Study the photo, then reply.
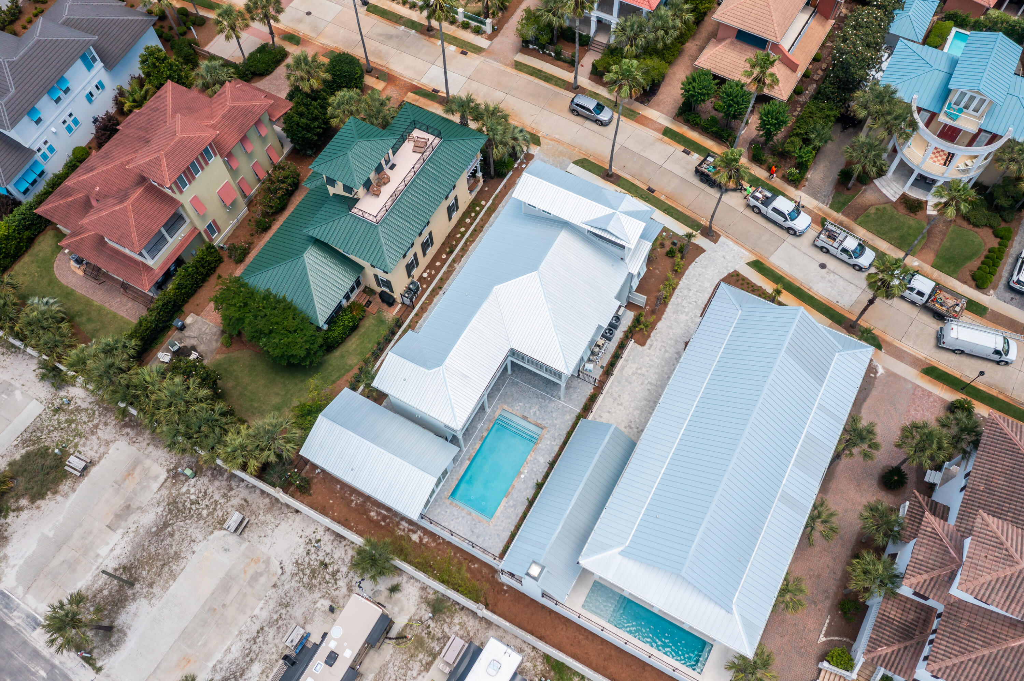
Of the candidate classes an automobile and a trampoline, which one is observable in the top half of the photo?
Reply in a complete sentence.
You can see an automobile in the top half of the photo.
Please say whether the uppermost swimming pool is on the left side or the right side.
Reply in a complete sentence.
You can find the uppermost swimming pool on the right side of the picture.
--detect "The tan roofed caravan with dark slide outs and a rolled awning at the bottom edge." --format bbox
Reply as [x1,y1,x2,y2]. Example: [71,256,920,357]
[283,594,390,681]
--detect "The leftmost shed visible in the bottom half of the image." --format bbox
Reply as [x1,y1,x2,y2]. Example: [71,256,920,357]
[298,387,462,528]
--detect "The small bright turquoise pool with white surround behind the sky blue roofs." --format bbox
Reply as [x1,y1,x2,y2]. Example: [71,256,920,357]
[943,30,968,56]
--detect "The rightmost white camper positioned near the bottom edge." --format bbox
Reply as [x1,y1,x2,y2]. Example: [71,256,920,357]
[446,637,523,681]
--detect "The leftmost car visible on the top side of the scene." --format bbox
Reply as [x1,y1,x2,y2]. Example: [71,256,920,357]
[568,91,616,126]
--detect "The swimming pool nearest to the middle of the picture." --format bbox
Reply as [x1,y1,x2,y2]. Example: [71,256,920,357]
[443,404,548,527]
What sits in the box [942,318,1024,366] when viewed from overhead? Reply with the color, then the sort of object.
white van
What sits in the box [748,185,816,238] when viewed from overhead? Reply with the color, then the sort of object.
white truck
